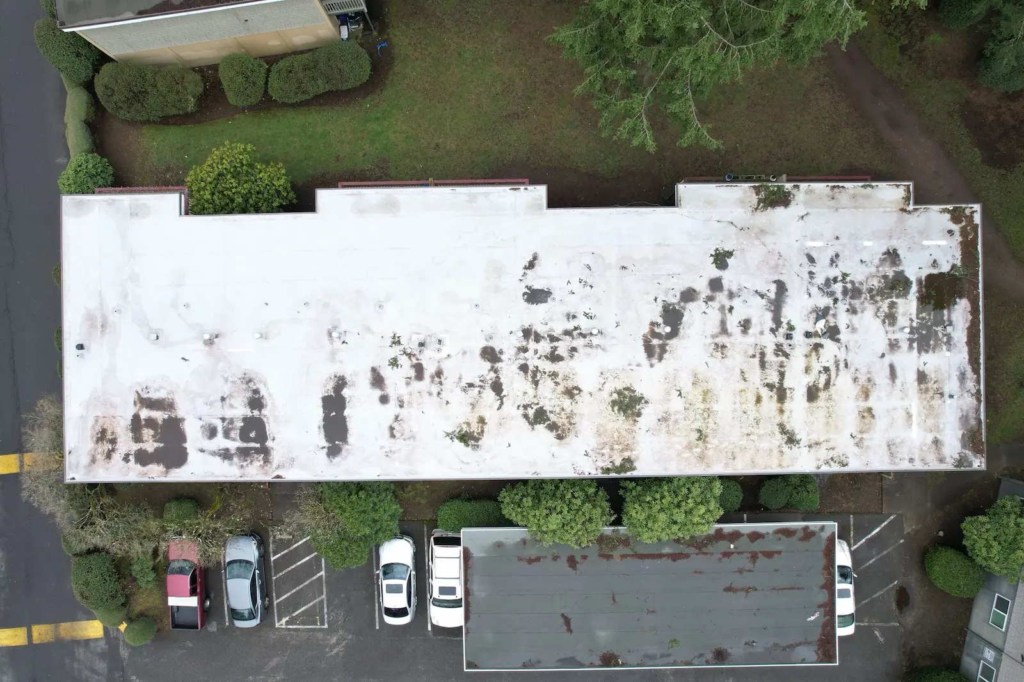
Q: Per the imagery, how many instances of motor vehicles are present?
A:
5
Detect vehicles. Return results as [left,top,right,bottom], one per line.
[220,533,268,628]
[425,528,464,625]
[837,537,861,633]
[376,533,419,626]
[163,533,213,632]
